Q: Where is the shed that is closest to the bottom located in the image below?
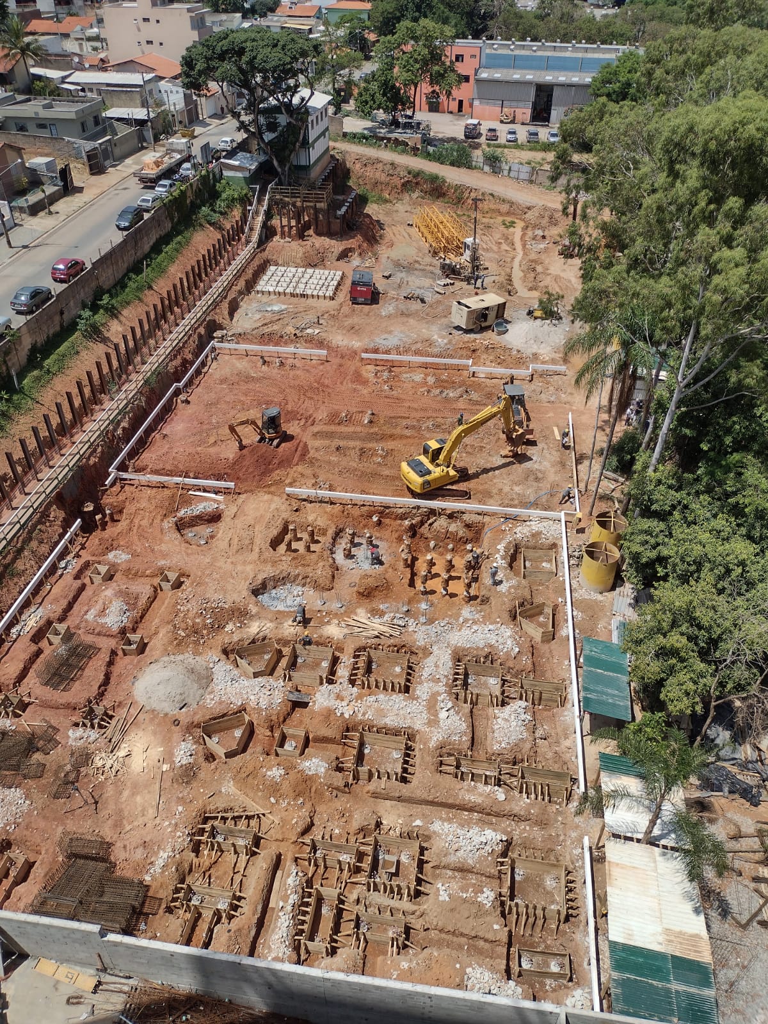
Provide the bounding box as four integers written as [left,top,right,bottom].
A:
[596,838,716,1024]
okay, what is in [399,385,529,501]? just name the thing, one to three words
work vehicle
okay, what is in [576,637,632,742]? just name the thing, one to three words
shed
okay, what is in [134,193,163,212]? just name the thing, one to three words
car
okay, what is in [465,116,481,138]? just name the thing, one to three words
vehicle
